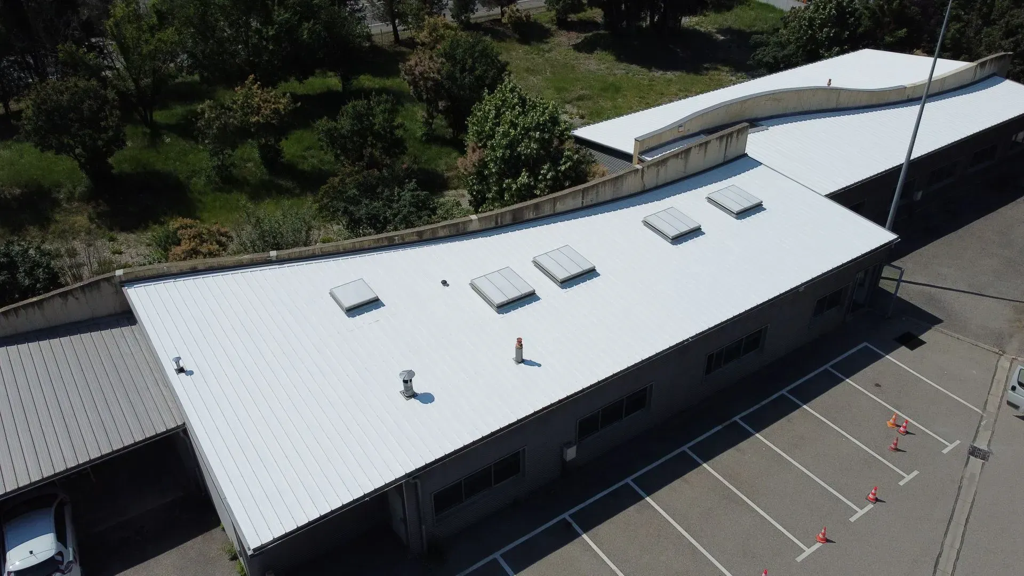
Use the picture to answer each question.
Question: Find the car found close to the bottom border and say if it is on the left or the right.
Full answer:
The car found close to the bottom border appears in the left half of the scene.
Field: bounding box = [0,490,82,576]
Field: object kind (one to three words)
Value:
car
